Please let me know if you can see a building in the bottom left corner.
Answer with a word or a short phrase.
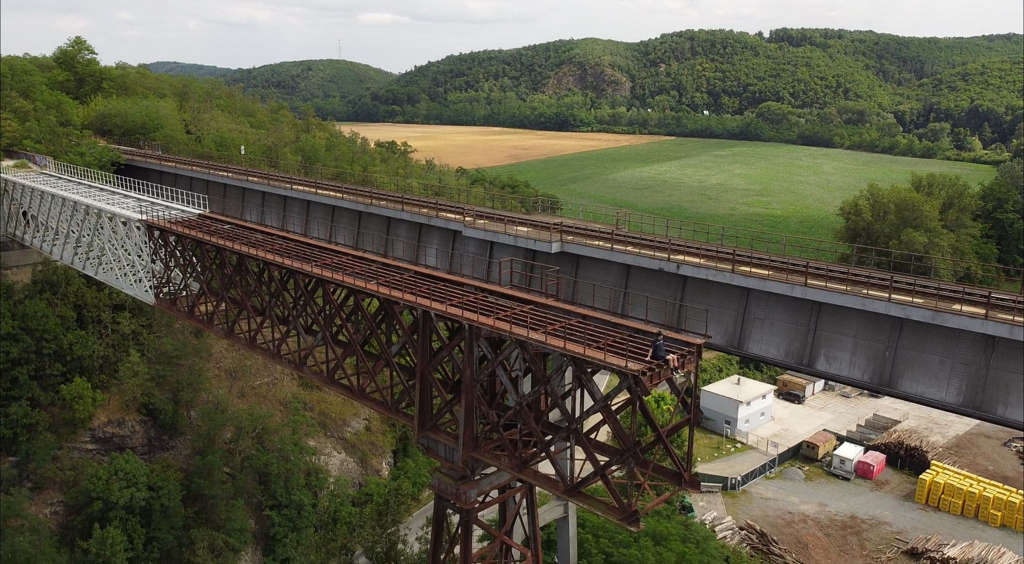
No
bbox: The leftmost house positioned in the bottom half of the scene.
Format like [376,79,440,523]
[698,374,779,441]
